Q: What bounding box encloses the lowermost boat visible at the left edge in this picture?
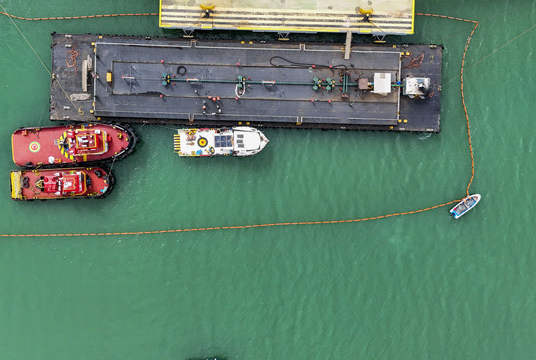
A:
[11,164,118,202]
